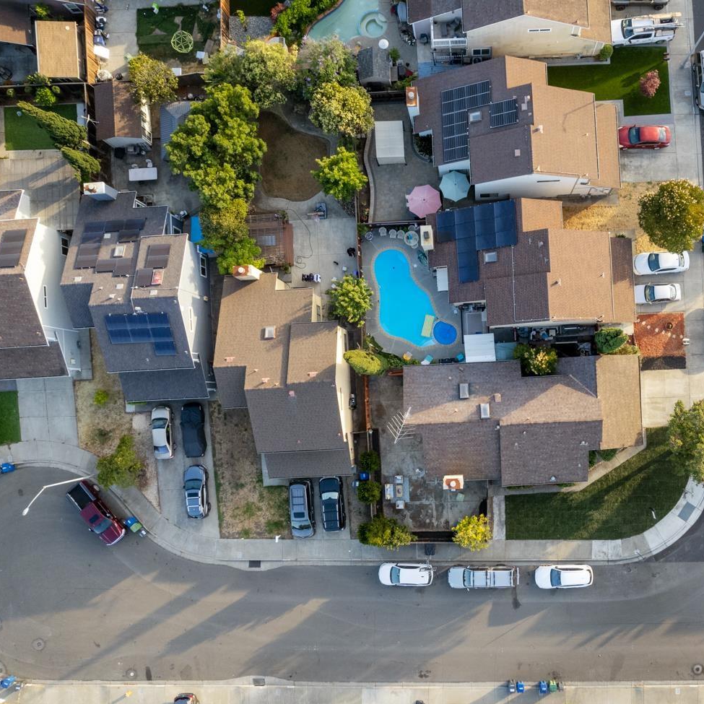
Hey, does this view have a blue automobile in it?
Yes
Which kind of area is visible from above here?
residential area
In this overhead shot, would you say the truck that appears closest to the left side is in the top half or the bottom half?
bottom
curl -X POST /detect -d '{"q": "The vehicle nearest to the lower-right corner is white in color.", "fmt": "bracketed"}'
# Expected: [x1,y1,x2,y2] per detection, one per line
[534,562,594,592]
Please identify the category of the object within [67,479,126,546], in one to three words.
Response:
truck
